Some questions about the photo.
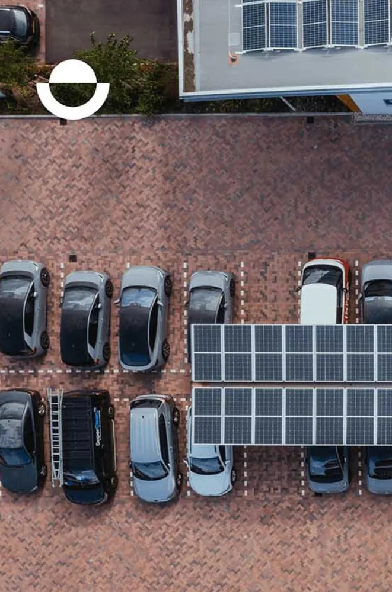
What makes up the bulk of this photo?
paved ground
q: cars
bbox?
[302,257,353,323]
[0,260,54,359]
[0,389,48,495]
[185,402,237,497]
[0,5,44,51]
[61,270,117,370]
[301,446,351,495]
[119,265,176,372]
[127,395,182,504]
[358,260,392,343]
[185,271,238,367]
[359,435,392,496]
